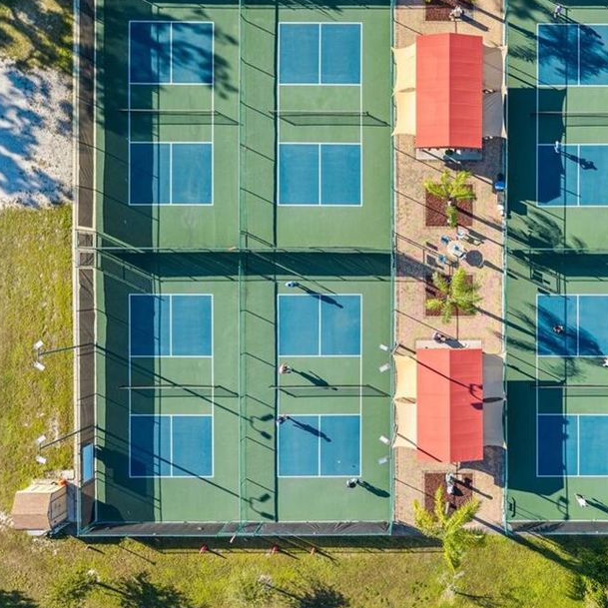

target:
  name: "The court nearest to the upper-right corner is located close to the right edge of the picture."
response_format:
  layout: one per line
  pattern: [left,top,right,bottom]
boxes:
[537,22,608,205]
